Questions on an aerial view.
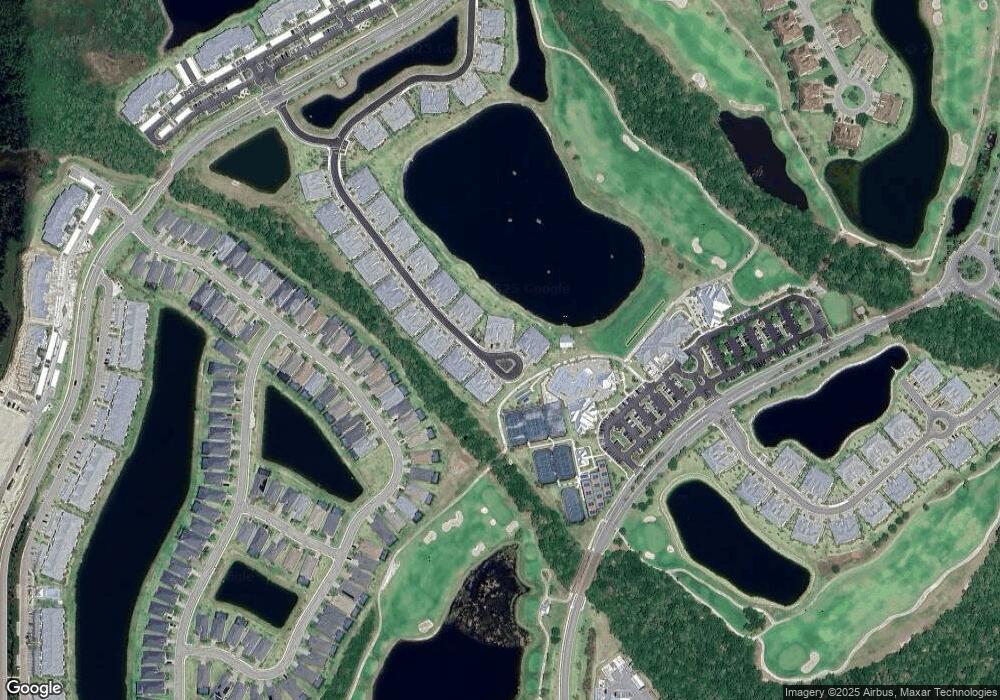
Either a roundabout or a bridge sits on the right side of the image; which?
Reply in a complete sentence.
What appears on the right side of the image is a roundabout.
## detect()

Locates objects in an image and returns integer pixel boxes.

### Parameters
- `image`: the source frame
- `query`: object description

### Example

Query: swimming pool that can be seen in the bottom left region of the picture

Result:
[37,587,60,602]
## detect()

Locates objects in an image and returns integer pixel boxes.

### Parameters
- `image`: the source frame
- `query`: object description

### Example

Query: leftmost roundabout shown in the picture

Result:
[483,351,522,380]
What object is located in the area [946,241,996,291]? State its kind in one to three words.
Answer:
roundabout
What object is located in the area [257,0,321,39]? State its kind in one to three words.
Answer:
building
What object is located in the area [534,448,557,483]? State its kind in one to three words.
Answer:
tennis court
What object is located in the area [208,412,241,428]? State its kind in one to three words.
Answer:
house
